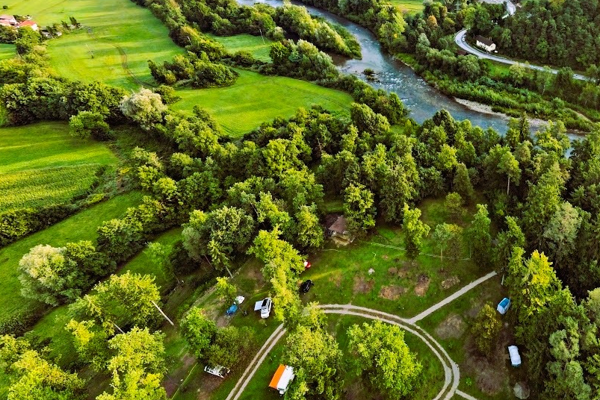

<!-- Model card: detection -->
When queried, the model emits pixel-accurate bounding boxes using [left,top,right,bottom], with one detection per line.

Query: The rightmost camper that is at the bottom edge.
[267,369,291,399]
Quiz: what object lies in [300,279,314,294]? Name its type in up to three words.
car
